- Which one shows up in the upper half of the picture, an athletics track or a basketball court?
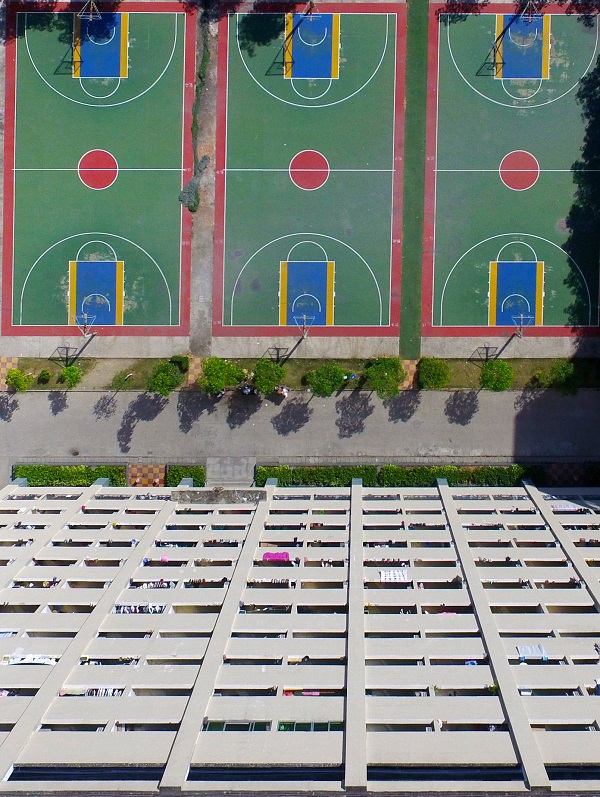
basketball court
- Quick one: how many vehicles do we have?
0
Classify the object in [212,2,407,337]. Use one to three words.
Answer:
basketball court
